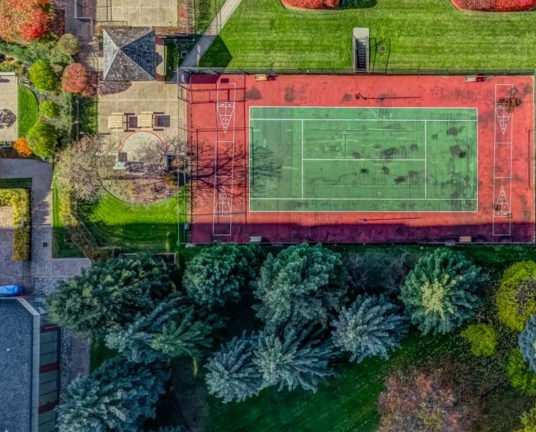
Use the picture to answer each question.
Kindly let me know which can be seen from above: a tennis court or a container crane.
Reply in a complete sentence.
The one in the frame is a tennis court.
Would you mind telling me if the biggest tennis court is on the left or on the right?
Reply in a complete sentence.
The biggest tennis court is on the right side of the image.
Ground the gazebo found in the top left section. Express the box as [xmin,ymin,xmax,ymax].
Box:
[103,27,165,83]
